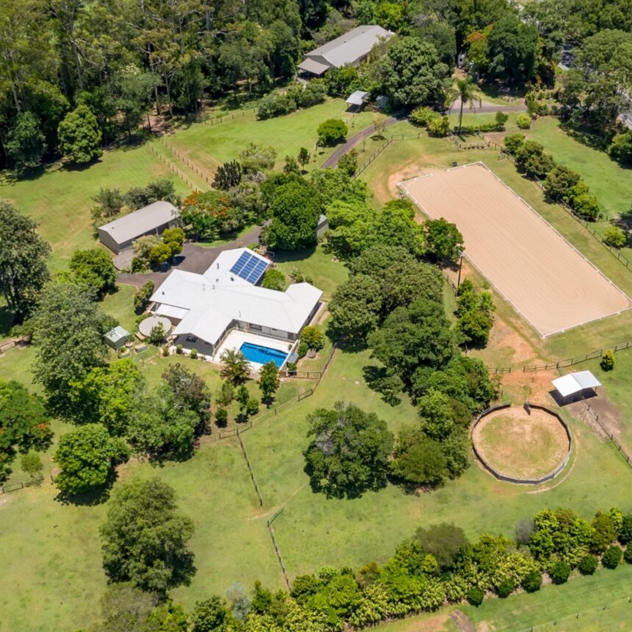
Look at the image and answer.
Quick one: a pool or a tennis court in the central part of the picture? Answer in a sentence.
Visible in the central part of the picture is a pool.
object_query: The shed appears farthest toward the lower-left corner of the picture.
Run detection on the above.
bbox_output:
[105,326,131,351]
